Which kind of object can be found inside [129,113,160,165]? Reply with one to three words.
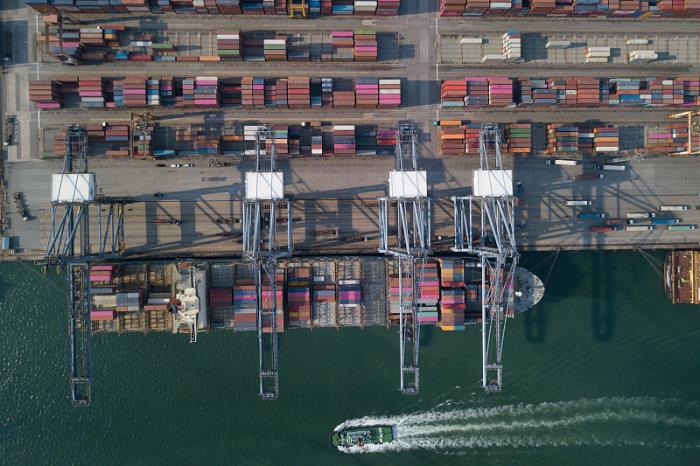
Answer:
crane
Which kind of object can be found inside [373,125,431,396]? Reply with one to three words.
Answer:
container crane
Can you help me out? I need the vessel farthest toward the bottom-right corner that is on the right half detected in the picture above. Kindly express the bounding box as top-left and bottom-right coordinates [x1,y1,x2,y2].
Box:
[658,252,700,303]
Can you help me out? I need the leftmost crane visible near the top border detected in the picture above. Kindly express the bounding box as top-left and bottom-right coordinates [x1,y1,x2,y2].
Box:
[44,8,81,68]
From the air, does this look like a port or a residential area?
port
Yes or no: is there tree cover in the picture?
No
